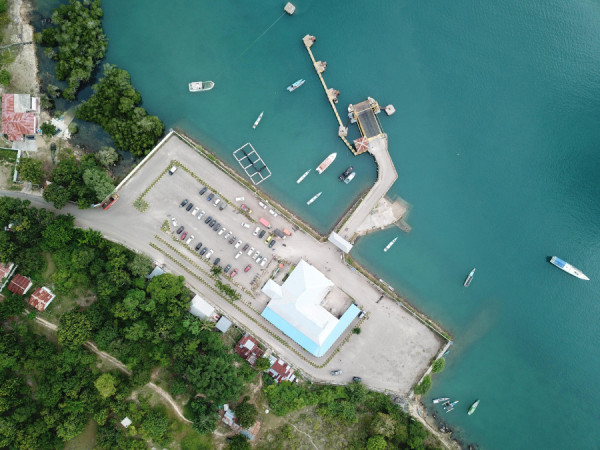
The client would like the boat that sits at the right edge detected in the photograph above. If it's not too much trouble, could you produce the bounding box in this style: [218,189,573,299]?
[549,256,591,280]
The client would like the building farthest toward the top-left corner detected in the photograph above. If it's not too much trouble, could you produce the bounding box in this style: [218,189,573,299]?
[0,92,41,142]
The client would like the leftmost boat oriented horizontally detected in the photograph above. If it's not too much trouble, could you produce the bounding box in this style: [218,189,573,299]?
[188,79,215,93]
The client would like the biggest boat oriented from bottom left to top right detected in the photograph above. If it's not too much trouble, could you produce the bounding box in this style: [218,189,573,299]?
[316,152,337,173]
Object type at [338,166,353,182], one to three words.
boat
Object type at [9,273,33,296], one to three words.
house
